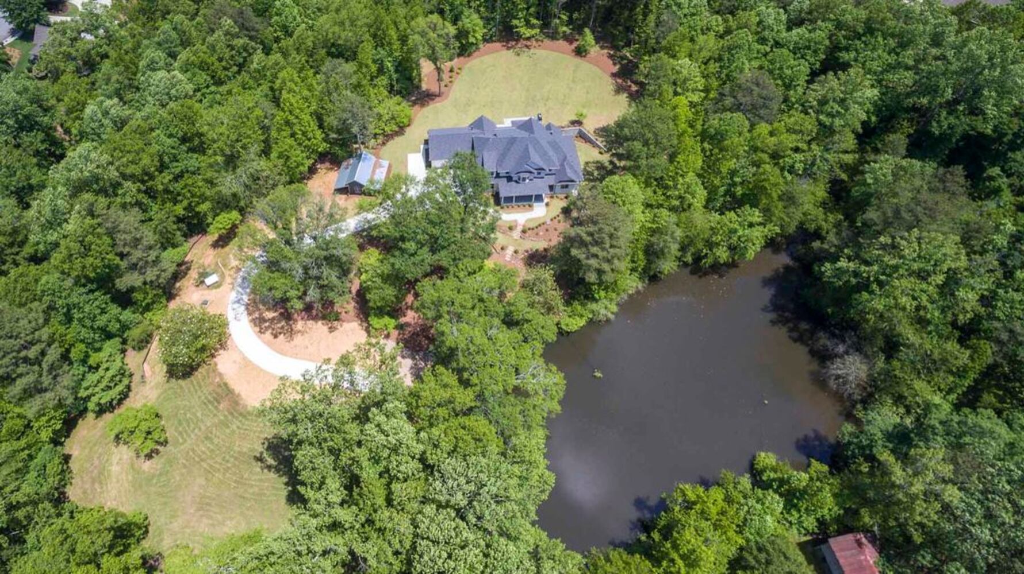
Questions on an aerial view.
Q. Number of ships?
0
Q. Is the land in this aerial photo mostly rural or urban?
rural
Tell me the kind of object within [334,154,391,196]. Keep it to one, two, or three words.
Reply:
shed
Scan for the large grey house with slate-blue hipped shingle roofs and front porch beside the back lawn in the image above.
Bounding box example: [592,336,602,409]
[428,109,582,207]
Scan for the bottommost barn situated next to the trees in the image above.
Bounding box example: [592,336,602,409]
[815,528,900,574]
